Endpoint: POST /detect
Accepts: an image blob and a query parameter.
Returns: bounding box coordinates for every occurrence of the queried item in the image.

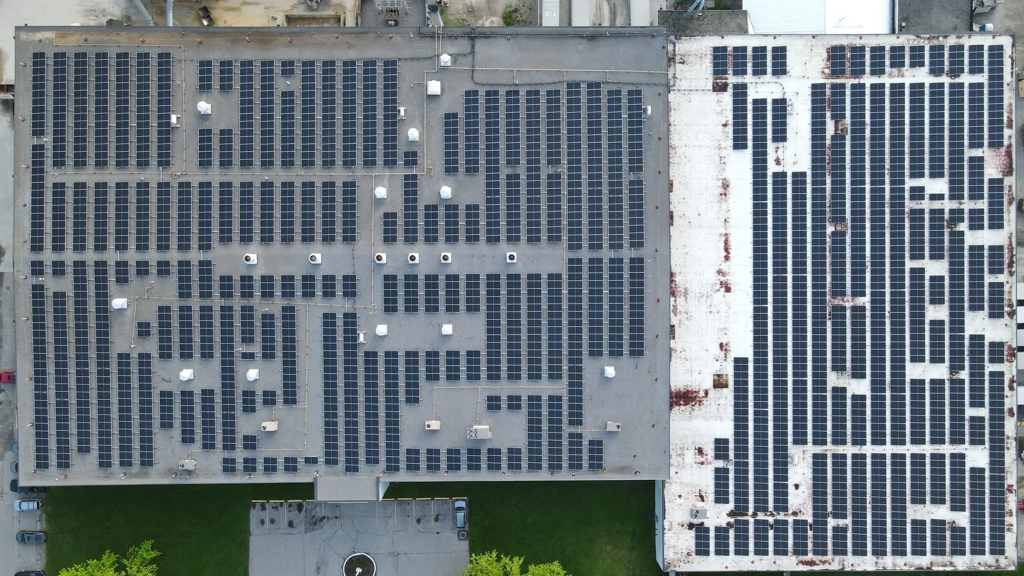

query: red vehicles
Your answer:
[0,371,15,386]
[1018,500,1024,513]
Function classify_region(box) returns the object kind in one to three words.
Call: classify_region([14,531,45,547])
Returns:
car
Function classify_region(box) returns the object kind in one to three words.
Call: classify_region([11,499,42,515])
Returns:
car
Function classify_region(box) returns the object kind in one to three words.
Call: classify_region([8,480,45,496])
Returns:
vehicle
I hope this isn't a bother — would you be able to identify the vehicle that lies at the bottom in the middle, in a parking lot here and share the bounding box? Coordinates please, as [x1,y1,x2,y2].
[453,501,467,530]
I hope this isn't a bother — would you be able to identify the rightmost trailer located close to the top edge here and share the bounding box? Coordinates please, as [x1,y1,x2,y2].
[626,0,650,26]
